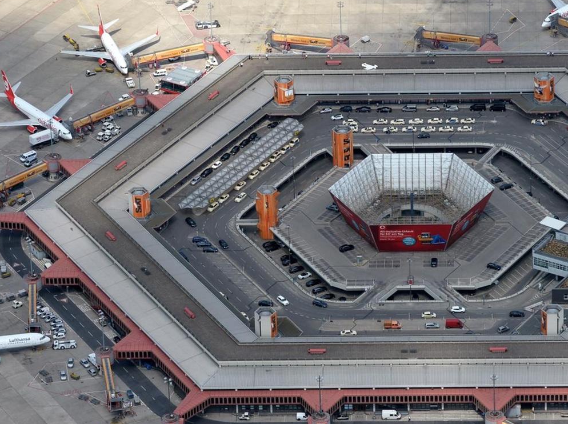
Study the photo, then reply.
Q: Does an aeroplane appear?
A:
Yes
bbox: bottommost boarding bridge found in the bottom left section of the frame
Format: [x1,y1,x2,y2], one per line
[101,358,123,412]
